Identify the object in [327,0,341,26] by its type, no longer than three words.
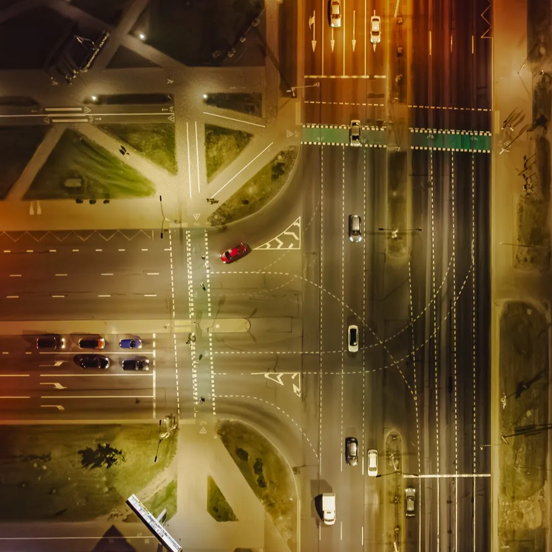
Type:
vehicle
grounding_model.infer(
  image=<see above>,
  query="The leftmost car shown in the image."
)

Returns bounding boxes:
[35,336,65,349]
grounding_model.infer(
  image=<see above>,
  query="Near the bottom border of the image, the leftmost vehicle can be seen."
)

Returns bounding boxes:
[321,493,336,526]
